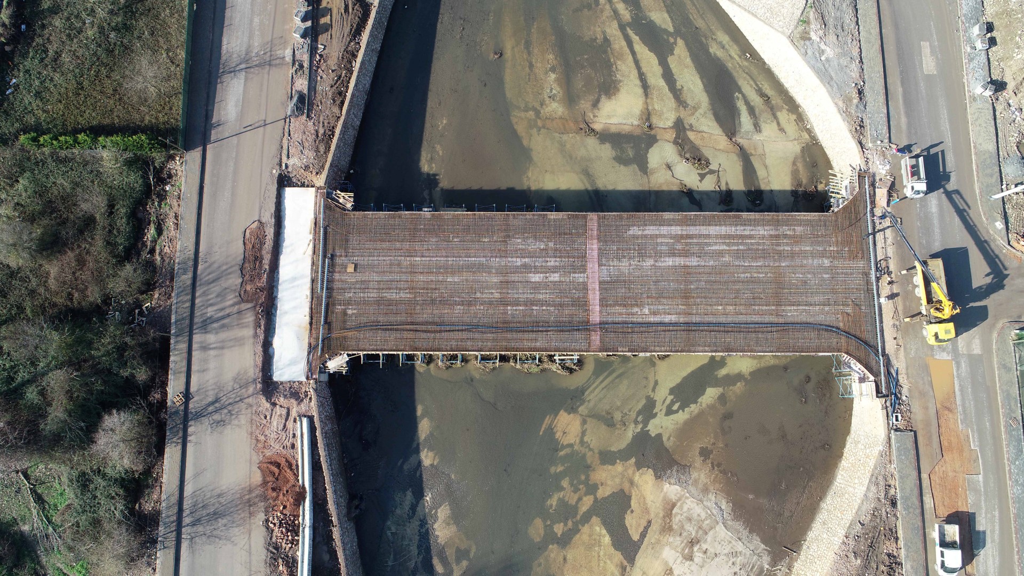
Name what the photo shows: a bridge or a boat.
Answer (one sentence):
The one in the frame is a bridge.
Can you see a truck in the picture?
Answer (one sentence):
Yes, a truck is visible in the scene.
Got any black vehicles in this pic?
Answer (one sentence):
No, the scene contains no black vehicle.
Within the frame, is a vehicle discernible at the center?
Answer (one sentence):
No, no vehicle appears at the center.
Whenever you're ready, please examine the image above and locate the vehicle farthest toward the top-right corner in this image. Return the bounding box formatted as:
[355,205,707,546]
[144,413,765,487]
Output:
[894,153,932,202]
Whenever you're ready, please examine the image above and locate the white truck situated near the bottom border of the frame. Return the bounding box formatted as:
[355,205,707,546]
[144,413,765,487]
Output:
[931,522,966,576]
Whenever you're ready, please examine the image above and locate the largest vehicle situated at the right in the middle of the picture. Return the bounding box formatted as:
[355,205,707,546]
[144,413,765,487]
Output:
[870,206,963,349]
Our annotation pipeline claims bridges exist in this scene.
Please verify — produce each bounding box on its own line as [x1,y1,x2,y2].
[308,171,891,398]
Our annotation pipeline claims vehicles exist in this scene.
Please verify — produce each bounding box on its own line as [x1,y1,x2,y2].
[894,153,932,202]
[931,522,966,576]
[870,206,963,349]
